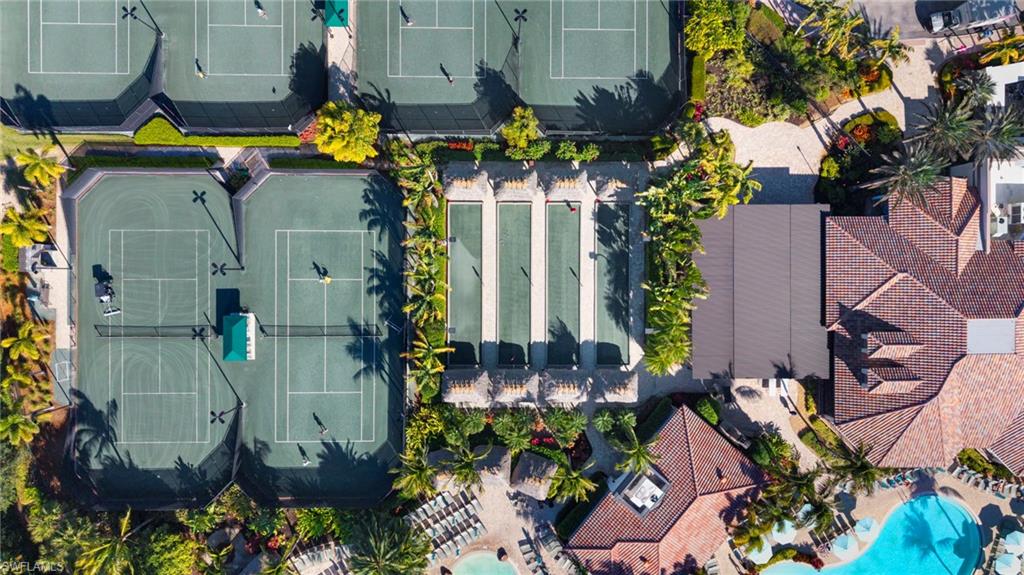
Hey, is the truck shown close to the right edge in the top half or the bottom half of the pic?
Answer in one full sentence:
The truck shown close to the right edge is in the top half of the image.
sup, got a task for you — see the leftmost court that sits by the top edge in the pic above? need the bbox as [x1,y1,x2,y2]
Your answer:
[0,0,163,126]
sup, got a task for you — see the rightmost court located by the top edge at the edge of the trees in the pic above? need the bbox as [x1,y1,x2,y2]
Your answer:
[518,0,678,130]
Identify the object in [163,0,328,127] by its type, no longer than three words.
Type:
tennis court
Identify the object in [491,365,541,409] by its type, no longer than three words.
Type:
shed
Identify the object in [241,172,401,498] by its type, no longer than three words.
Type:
tennis court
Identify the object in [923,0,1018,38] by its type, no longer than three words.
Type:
truck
